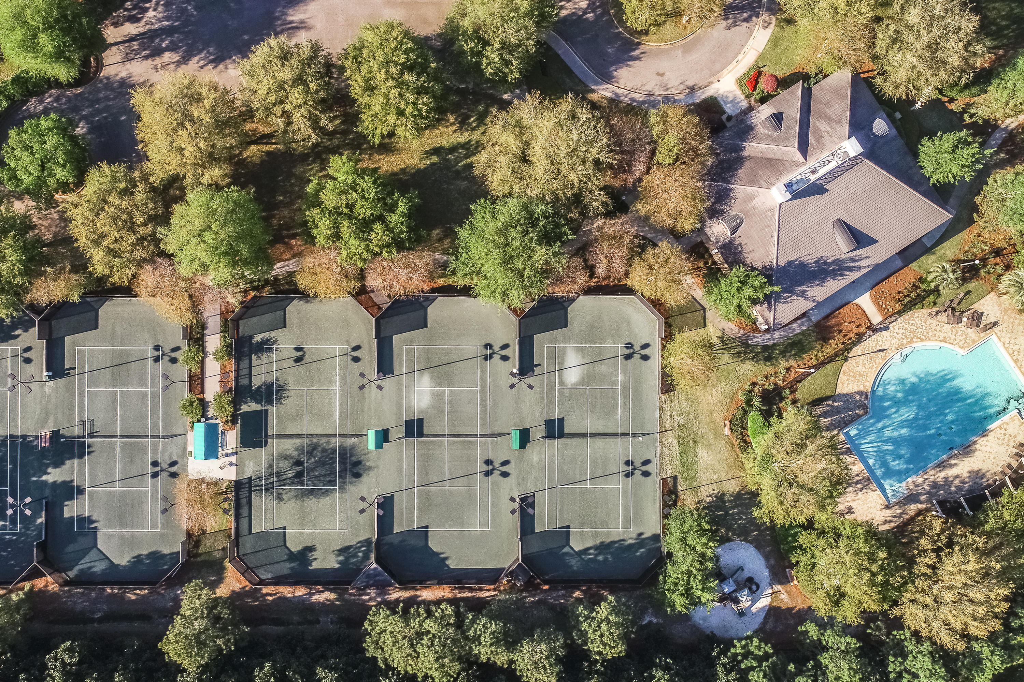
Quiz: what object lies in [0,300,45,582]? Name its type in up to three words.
tennis court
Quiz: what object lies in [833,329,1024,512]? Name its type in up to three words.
swimming pool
